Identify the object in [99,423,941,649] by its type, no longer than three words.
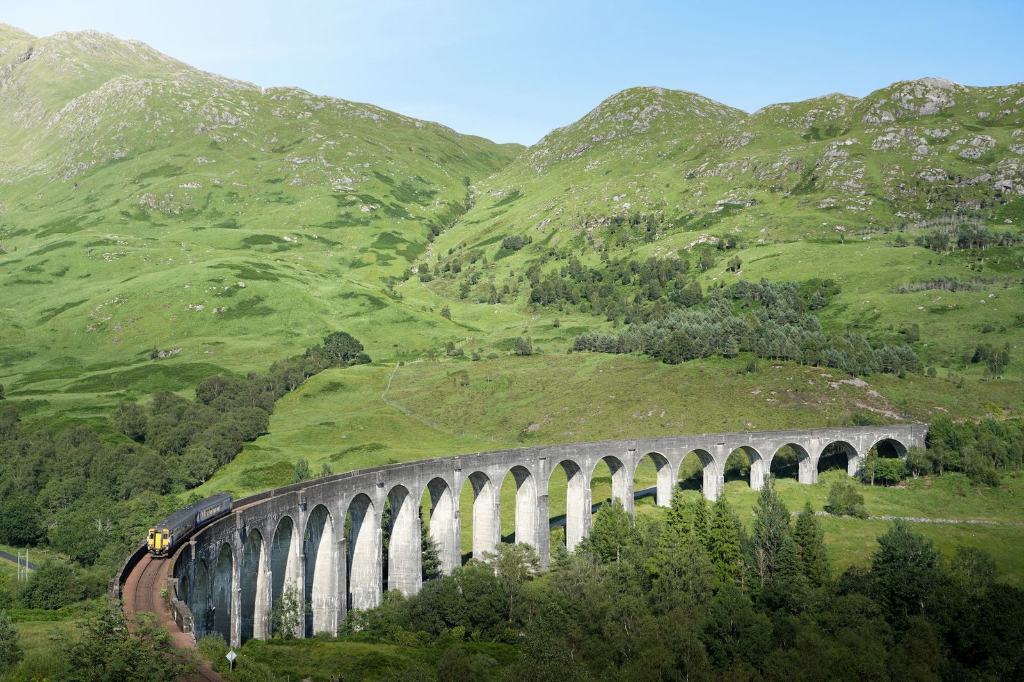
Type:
bridge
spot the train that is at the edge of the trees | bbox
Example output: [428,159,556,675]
[148,492,233,555]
